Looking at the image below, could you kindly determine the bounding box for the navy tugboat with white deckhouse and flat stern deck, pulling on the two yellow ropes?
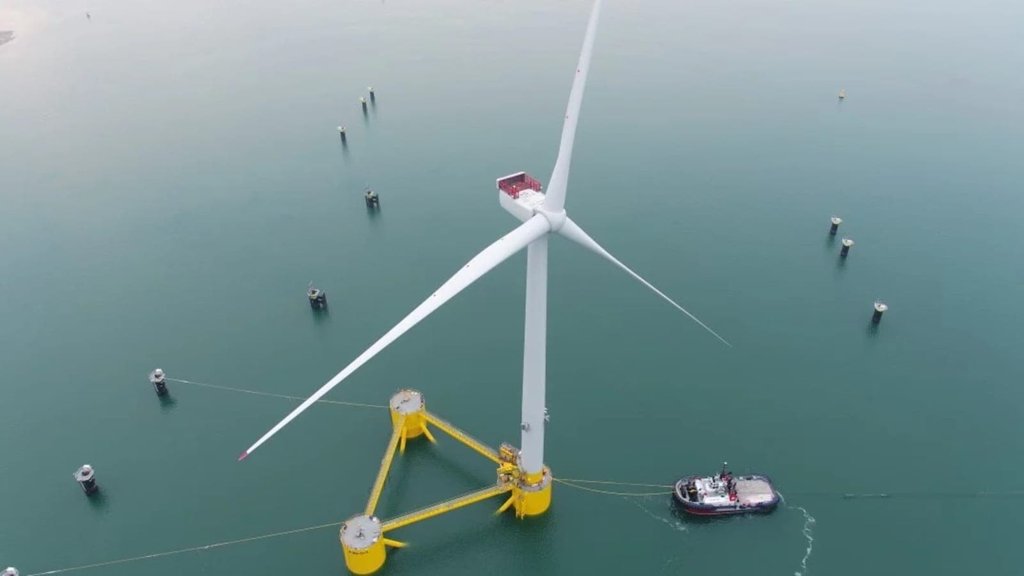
[670,464,782,515]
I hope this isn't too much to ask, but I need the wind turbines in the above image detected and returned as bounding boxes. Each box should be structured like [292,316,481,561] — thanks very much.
[241,0,731,485]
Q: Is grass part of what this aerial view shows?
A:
No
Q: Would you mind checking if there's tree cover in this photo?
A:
No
